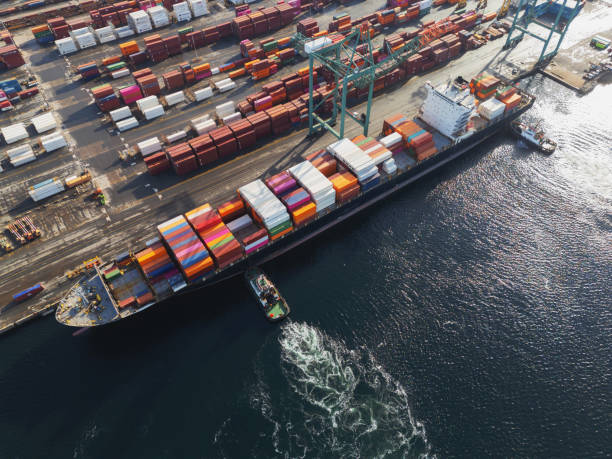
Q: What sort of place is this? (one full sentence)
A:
It's a port.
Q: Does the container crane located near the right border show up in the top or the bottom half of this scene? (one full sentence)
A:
The top half of the photo is where the container crane located near the right border is.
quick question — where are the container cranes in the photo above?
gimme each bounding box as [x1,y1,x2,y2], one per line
[301,13,472,142]
[503,0,583,66]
